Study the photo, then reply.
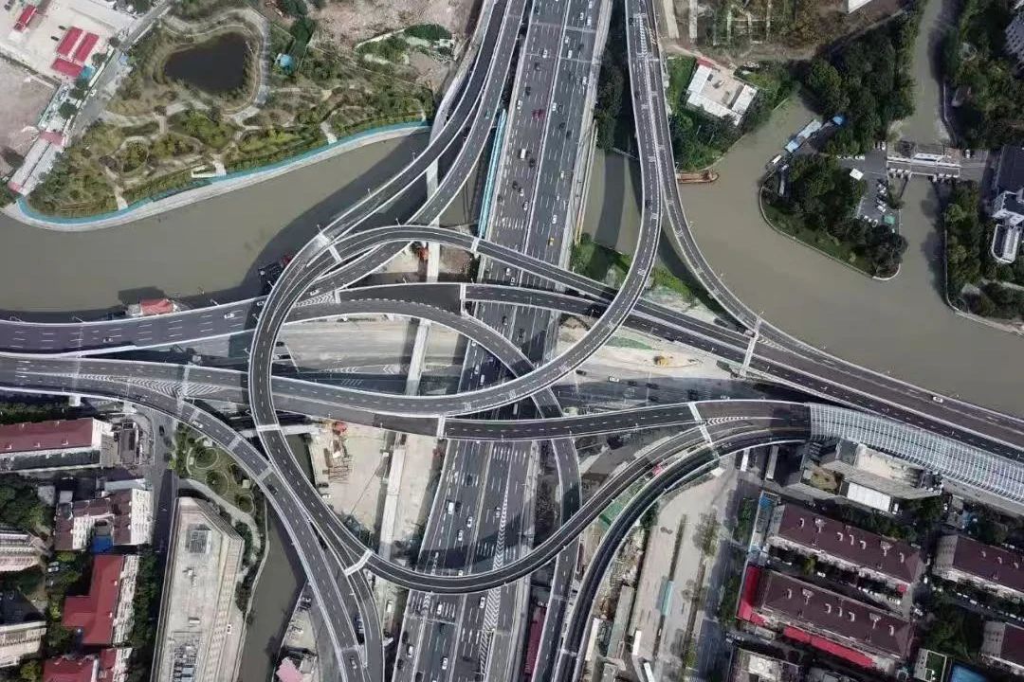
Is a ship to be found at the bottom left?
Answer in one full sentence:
No, looking at the bottom left, there is no ship.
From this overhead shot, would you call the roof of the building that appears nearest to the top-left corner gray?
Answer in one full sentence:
No, the roof of the building that appears nearest to the top-left corner is red.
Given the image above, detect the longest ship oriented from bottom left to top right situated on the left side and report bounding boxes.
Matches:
[253,256,290,286]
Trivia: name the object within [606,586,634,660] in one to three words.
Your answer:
shed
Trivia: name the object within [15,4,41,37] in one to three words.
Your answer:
building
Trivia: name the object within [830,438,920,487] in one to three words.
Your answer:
building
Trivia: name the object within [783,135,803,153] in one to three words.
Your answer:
boat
